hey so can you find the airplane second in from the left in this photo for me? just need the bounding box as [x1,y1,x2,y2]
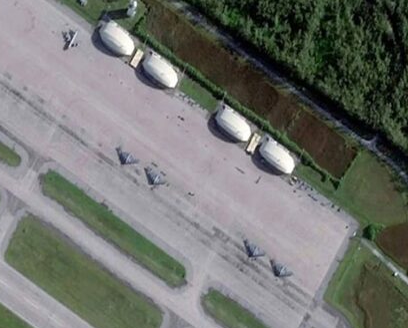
[116,147,141,161]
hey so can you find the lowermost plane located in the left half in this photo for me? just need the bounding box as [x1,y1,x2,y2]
[145,167,168,182]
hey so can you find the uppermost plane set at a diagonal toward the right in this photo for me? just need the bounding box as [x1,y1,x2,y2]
[244,240,266,255]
